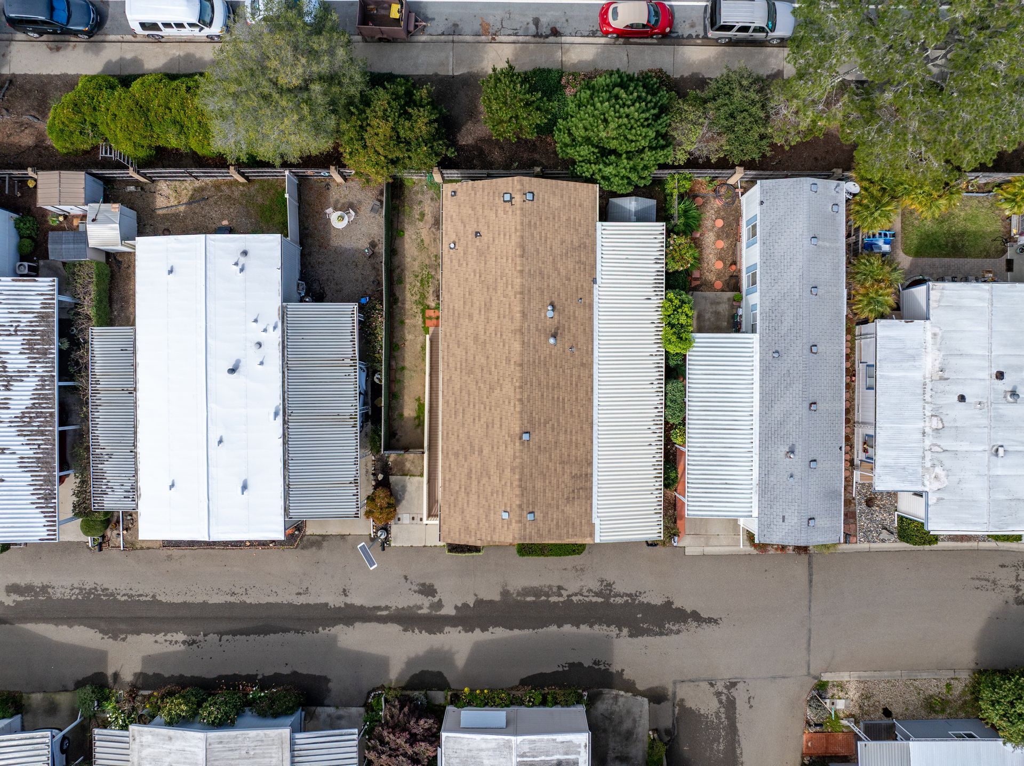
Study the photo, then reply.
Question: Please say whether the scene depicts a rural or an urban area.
urban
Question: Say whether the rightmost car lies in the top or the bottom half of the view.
top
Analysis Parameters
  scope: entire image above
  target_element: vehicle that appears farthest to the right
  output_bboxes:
[700,0,795,43]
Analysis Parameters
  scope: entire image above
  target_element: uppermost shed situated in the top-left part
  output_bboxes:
[37,170,104,214]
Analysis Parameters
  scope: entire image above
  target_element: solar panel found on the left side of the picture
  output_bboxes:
[355,541,379,570]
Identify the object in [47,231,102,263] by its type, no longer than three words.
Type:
shed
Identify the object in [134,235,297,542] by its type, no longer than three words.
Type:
house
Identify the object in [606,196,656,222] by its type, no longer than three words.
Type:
shed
